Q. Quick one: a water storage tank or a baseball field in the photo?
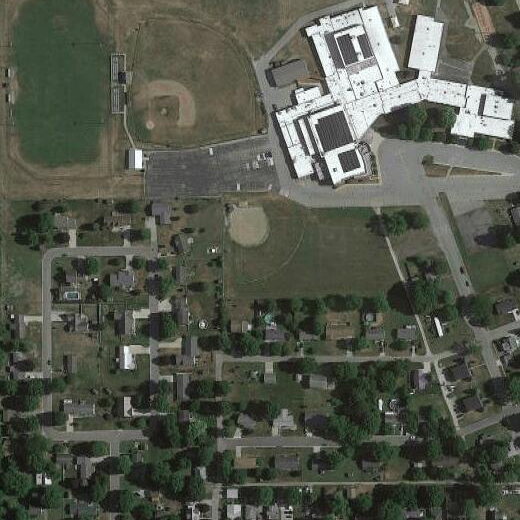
baseball field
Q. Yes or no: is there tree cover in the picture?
Yes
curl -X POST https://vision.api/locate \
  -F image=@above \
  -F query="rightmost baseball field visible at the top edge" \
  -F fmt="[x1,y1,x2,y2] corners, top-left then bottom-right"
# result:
[129,19,254,144]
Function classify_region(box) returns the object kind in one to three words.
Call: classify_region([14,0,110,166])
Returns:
sports field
